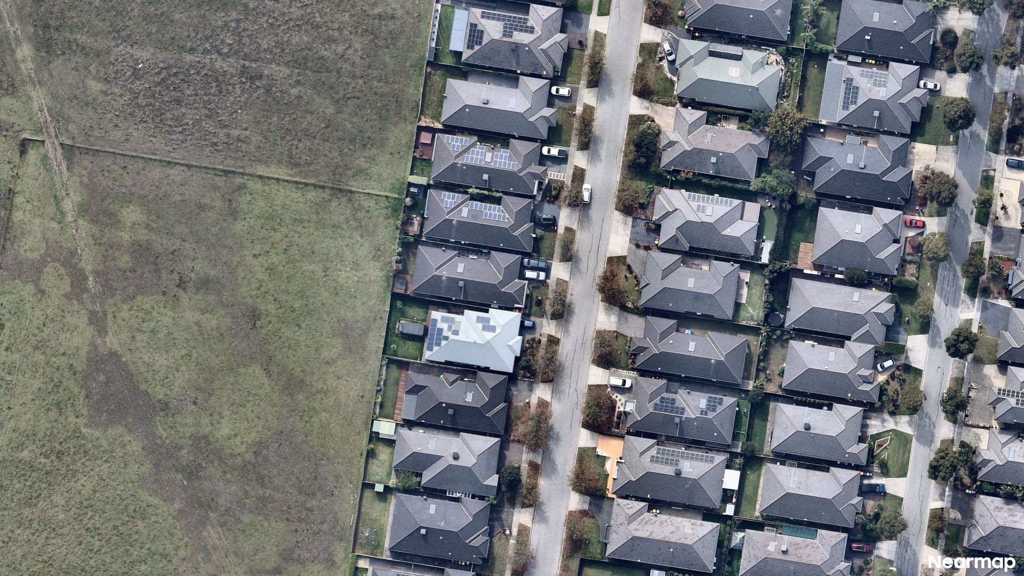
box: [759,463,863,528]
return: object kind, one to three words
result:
house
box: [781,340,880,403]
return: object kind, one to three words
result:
house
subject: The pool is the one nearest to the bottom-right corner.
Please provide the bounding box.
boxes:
[782,526,816,539]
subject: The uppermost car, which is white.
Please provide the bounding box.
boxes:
[662,40,676,62]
